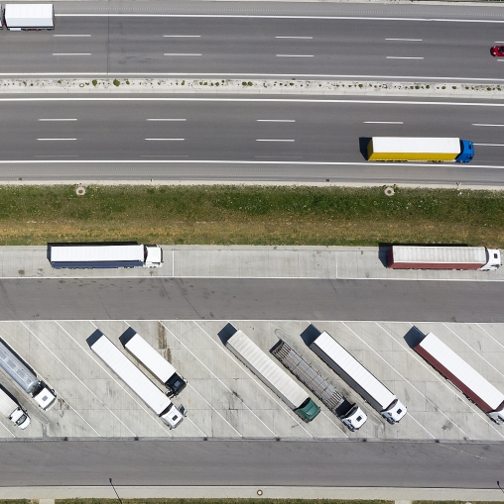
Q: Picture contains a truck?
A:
Yes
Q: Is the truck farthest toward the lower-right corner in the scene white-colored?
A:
Yes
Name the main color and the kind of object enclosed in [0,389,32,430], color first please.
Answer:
white van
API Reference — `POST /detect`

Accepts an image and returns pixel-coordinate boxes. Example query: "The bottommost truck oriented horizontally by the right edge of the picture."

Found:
[388,246,501,269]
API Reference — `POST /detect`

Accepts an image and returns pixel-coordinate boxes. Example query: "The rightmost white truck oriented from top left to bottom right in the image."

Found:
[413,333,504,425]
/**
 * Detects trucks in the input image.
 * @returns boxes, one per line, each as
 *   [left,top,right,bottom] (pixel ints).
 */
[310,331,406,425]
[0,341,56,408]
[413,333,504,425]
[273,344,368,433]
[92,335,184,431]
[388,246,501,269]
[366,137,475,163]
[0,3,55,30]
[52,245,163,268]
[226,330,322,425]
[125,333,188,400]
